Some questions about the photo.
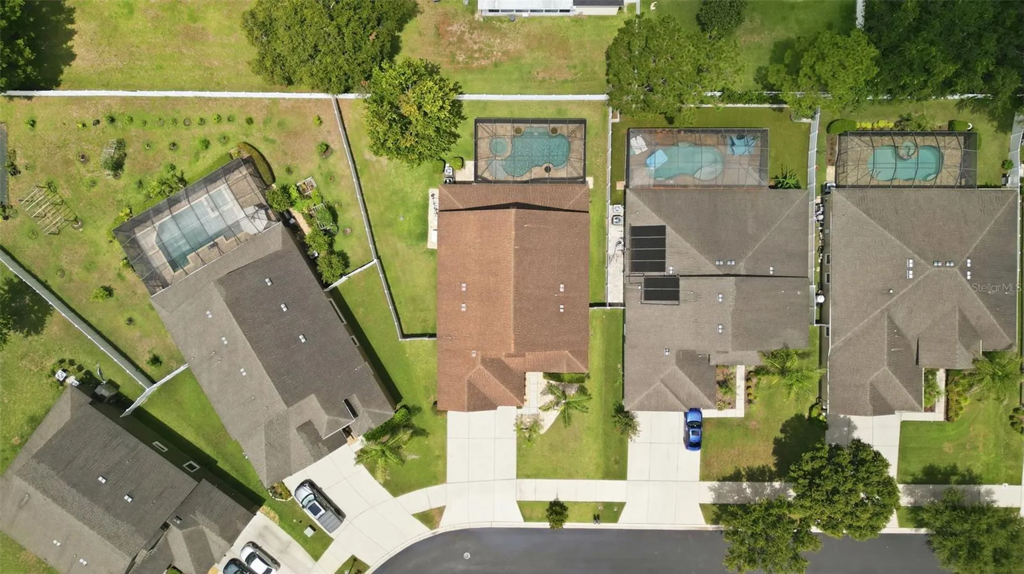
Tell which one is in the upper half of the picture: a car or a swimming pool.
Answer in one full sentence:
The feature located in the upper half of the picture is a swimming pool.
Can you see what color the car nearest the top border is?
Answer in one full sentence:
The color of the car nearest the top border is blue.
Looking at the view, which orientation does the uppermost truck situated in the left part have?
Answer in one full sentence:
From this overhead view, the uppermost truck situated in the left part appears to run on a diagonal.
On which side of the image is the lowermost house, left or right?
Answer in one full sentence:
The lowermost house sits on the left side.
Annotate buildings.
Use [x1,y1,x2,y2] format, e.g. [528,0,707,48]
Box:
[153,219,395,491]
[624,189,809,412]
[437,184,589,414]
[819,188,1018,418]
[479,0,623,19]
[0,386,259,574]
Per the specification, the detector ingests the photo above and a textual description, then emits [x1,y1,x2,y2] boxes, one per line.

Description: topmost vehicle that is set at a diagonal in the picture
[294,478,349,537]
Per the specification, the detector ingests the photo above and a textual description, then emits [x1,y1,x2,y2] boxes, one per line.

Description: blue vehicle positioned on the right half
[680,410,705,452]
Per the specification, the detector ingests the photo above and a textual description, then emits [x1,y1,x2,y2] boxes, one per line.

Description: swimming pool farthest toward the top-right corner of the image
[864,138,947,184]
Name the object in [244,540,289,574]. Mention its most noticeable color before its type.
white car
